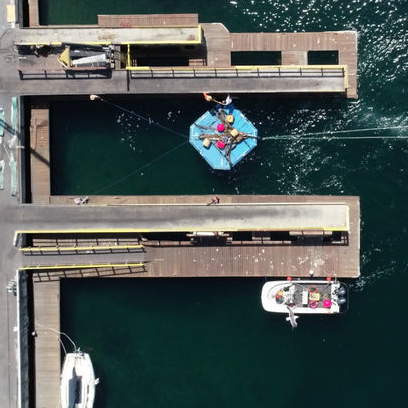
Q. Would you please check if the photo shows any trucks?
No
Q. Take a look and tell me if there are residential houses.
No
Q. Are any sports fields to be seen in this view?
No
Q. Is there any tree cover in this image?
No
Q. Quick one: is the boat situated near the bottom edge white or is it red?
white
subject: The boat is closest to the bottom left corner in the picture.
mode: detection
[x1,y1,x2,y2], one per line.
[61,350,99,408]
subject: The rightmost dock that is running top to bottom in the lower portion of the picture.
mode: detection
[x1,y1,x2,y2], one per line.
[34,278,63,408]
